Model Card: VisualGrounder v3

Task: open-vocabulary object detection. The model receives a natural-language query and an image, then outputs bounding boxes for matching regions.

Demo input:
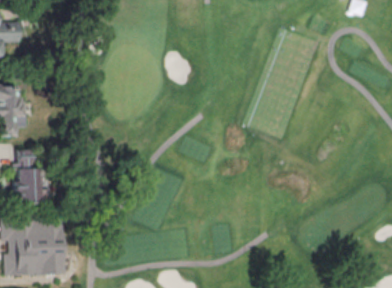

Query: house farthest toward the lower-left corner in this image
[0,220,66,276]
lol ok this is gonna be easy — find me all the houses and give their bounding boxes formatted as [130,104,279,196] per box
[0,12,22,59]
[0,83,27,136]
[0,220,66,276]
[16,150,44,204]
